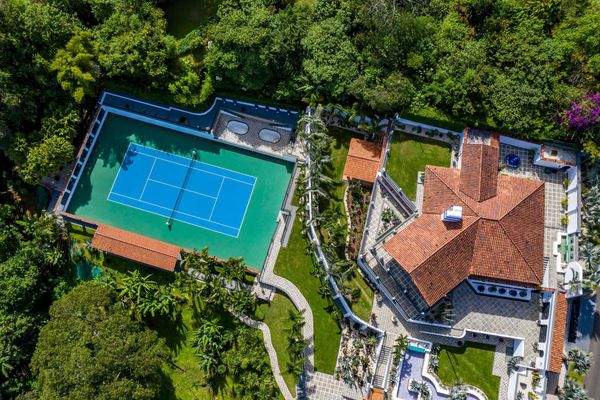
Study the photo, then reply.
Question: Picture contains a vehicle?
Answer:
No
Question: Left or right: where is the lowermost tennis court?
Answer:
left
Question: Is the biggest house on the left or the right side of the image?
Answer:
right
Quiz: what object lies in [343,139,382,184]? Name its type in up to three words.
shed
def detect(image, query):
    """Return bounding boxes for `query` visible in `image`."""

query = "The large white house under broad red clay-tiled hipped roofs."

[384,127,547,306]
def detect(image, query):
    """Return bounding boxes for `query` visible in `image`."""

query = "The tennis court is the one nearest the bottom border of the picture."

[63,115,294,272]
